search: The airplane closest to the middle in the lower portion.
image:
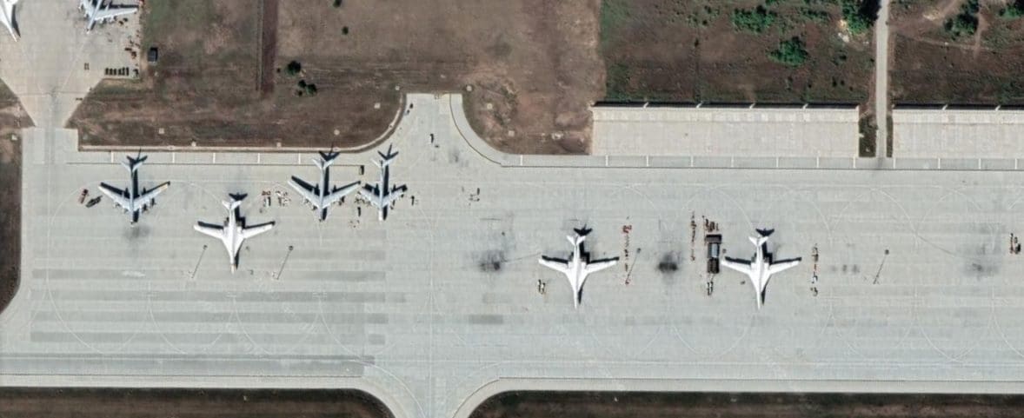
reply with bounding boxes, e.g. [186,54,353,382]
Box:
[537,232,615,307]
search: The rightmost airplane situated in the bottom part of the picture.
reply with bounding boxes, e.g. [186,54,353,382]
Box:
[720,233,798,308]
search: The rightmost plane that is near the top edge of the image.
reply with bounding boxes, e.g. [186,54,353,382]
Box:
[78,0,135,33]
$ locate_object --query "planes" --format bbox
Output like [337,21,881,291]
[537,232,615,307]
[195,197,271,272]
[78,0,135,33]
[361,153,401,220]
[98,158,166,225]
[0,0,19,42]
[720,233,798,308]
[288,154,357,224]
